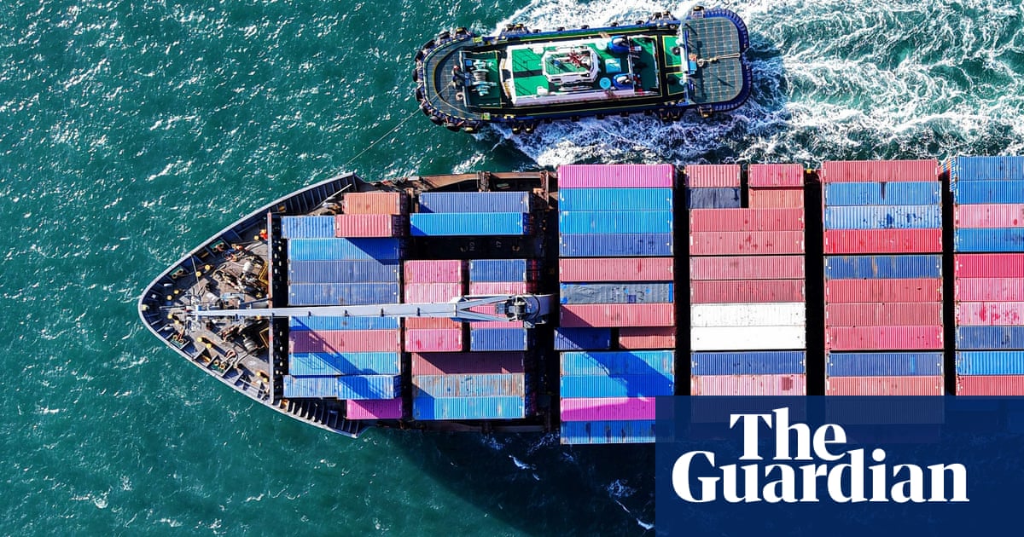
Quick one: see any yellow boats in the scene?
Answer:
No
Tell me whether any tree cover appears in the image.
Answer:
No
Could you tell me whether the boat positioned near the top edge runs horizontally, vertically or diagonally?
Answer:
horizontally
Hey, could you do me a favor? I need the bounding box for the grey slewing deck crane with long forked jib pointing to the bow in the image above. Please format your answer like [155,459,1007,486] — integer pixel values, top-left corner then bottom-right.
[173,291,562,334]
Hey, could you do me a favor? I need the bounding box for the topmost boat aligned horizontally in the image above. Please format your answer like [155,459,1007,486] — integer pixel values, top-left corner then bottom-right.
[416,6,750,131]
